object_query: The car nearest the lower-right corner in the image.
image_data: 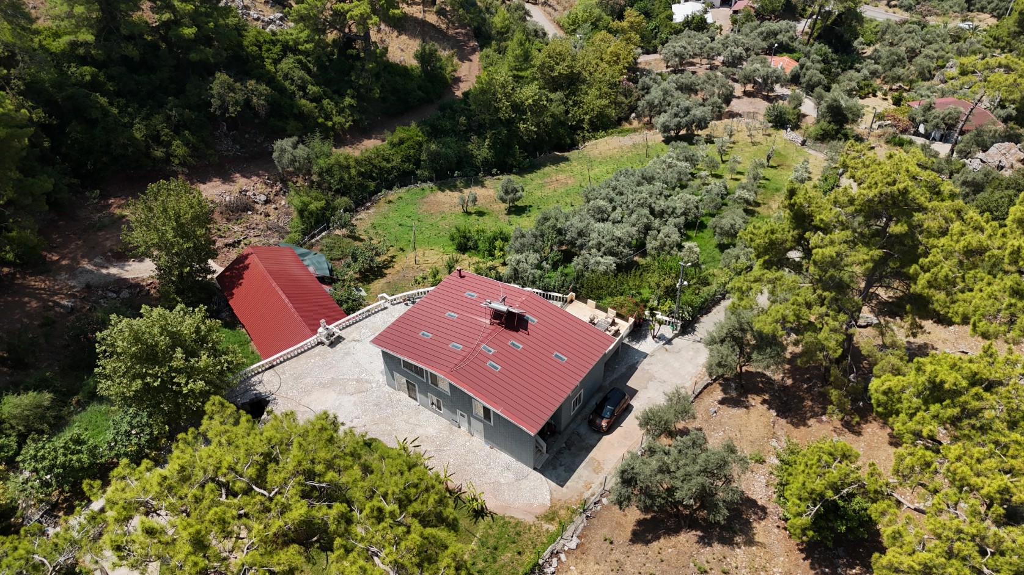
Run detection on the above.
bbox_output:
[591,385,632,433]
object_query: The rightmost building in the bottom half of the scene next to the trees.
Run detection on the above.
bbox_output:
[370,265,633,469]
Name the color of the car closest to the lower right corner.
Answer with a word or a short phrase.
black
